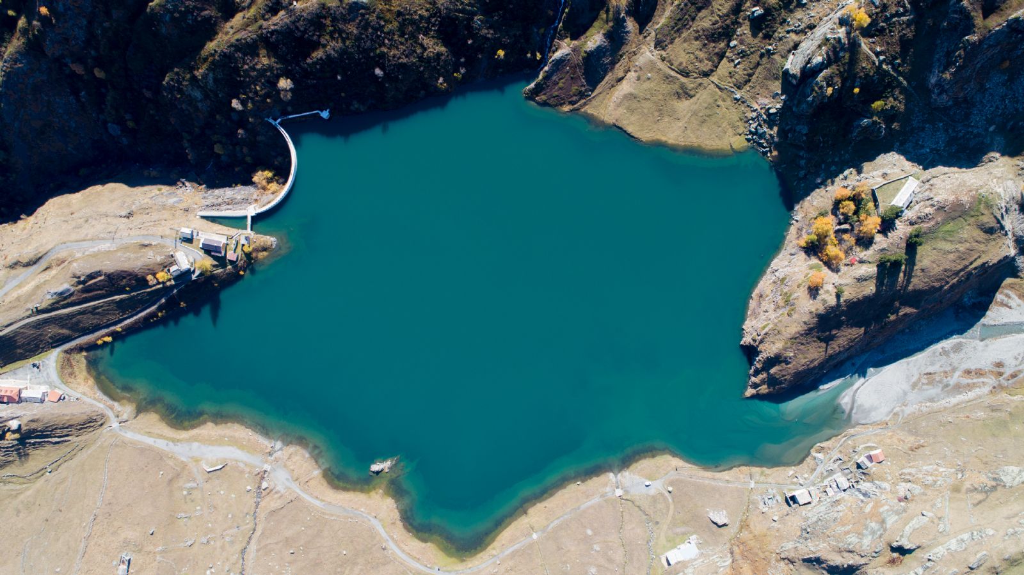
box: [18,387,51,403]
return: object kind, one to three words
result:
house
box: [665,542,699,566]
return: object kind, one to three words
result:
building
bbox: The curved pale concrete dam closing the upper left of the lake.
[254,120,300,216]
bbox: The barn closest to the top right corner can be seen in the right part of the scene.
[887,173,917,209]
